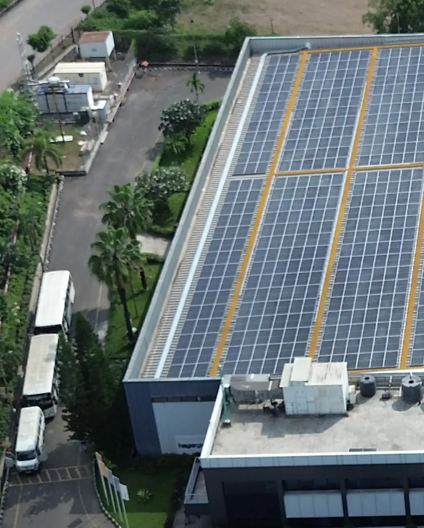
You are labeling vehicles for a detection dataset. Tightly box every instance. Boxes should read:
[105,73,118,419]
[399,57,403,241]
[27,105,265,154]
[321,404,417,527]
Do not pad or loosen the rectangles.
[14,406,51,481]
[37,270,74,338]
[23,334,62,420]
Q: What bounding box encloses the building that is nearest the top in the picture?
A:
[74,25,113,67]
